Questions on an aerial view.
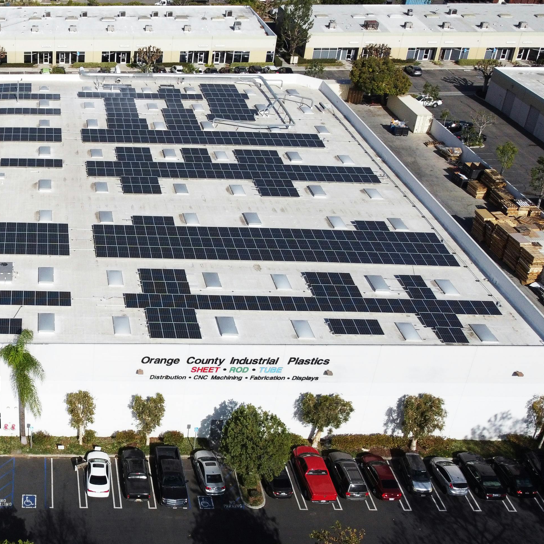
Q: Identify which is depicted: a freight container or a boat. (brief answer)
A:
freight container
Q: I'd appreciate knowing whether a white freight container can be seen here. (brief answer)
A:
Yes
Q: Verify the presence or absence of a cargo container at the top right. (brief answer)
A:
Yes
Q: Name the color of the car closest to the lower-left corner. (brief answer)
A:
white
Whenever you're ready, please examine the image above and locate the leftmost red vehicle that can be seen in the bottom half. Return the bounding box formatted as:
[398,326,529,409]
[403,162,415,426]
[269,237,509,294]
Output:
[291,447,333,501]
